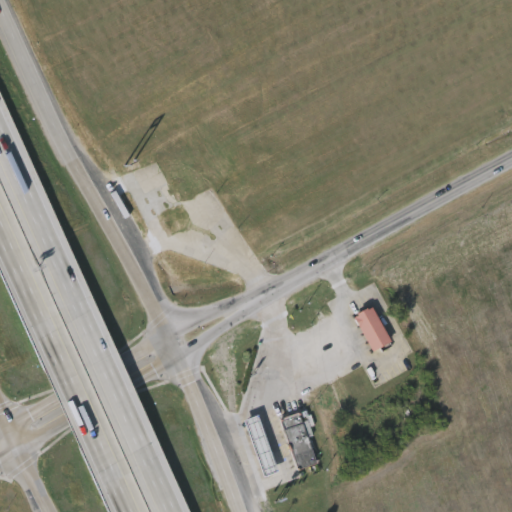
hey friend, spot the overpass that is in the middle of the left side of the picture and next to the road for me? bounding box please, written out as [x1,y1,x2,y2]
[0,92,190,512]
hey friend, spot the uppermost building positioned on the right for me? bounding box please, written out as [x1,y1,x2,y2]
[356,309,392,352]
